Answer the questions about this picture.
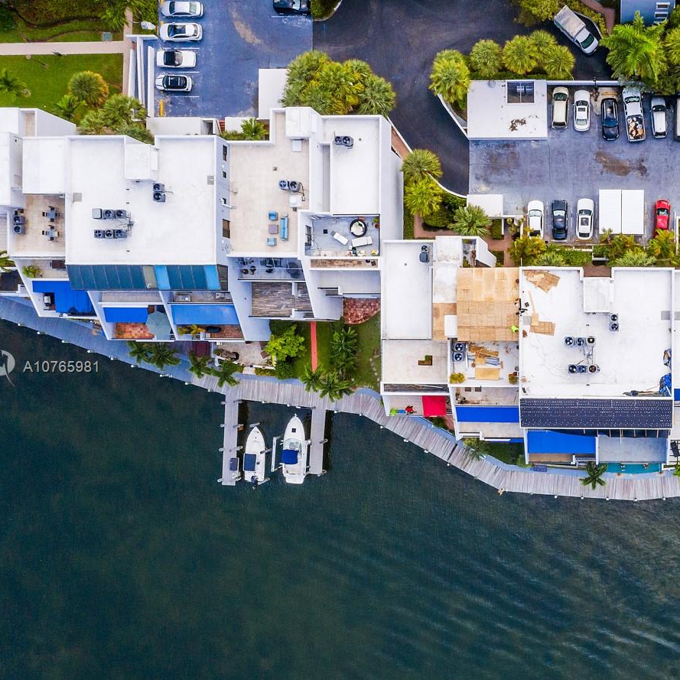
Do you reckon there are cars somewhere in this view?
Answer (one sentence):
Yes, the frame does contain a car.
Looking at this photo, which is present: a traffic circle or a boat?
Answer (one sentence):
The image shows a boat.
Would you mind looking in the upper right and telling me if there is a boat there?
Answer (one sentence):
No, looking in the upper right, there is no boat.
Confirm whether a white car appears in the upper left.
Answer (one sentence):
Yes, the scene does show a white car in the upper left.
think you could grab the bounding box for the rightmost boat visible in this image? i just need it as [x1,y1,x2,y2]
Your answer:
[281,415,310,488]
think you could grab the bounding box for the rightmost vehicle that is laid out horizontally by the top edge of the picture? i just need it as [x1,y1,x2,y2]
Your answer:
[272,0,313,17]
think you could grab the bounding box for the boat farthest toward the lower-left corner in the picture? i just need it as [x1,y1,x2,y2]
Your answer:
[245,425,267,492]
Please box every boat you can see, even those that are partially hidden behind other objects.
[281,415,310,488]
[245,425,267,492]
